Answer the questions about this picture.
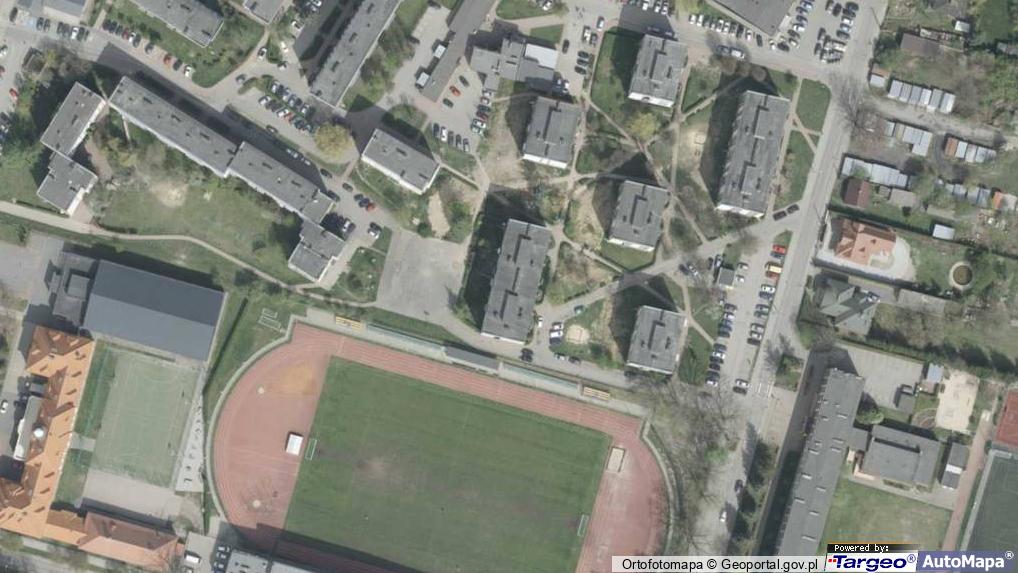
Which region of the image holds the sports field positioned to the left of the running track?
bottom left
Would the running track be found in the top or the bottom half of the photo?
bottom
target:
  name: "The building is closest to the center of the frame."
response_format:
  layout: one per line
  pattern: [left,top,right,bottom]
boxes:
[481,219,551,345]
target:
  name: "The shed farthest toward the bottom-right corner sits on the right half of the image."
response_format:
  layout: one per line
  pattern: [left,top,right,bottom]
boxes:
[941,443,969,489]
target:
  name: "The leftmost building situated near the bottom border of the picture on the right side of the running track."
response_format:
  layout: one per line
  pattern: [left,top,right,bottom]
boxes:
[770,371,864,573]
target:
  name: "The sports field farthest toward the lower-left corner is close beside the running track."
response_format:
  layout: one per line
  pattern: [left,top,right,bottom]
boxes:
[89,345,200,488]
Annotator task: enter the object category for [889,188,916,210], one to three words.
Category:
shed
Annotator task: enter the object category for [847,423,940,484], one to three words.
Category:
building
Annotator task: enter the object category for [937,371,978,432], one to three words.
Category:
sports court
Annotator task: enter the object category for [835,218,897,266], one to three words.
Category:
house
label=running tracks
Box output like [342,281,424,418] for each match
[208,315,680,573]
